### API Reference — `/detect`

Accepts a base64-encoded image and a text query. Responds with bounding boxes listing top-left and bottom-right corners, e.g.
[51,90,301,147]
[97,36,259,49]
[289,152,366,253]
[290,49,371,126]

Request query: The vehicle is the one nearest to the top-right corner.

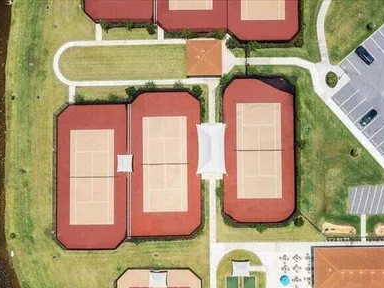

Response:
[357,46,373,64]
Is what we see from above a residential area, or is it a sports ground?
sports ground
